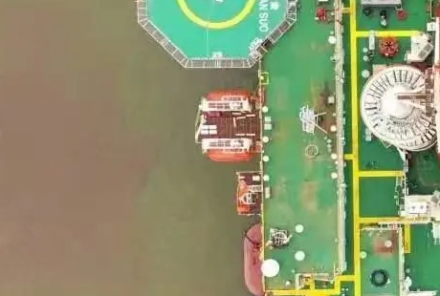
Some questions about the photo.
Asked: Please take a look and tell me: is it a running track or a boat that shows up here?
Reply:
boat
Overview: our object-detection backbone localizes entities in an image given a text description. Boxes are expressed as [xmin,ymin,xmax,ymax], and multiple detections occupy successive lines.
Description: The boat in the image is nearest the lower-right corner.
[236,172,260,215]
